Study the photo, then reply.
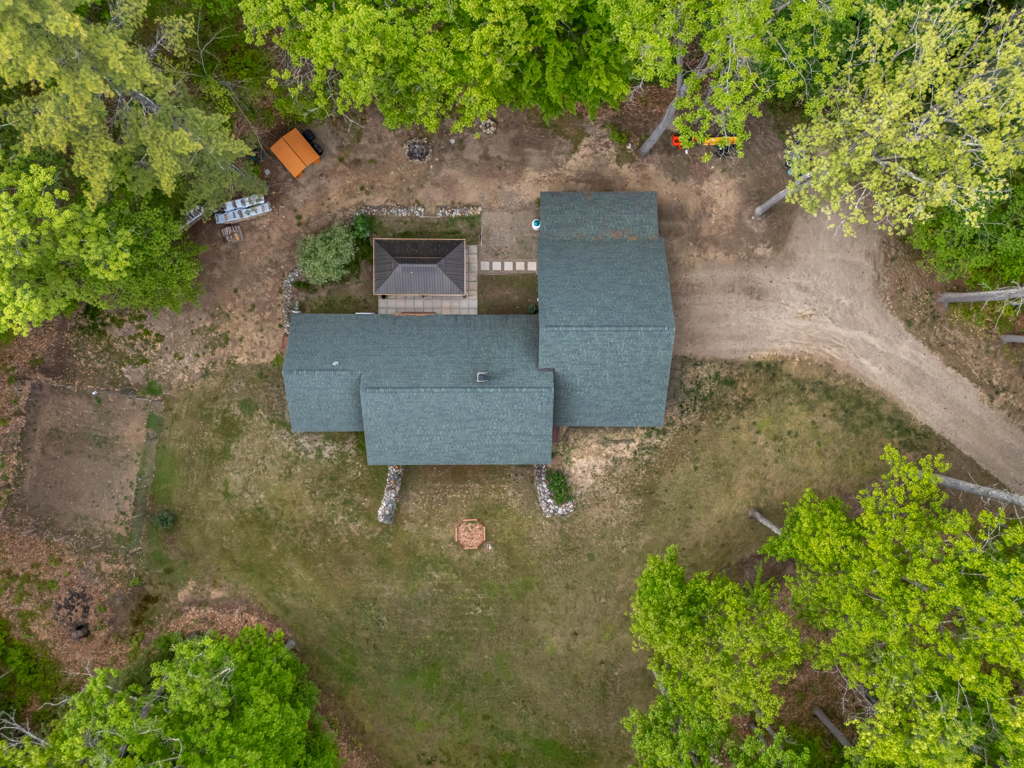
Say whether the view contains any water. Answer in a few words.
No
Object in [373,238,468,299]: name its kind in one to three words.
gazebo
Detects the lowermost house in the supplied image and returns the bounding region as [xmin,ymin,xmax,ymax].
[282,192,675,465]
